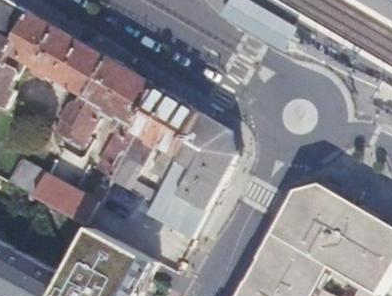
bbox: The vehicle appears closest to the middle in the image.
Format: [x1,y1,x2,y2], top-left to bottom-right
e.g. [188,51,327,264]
[203,67,224,84]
